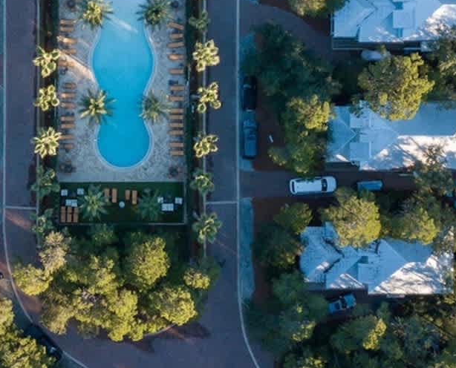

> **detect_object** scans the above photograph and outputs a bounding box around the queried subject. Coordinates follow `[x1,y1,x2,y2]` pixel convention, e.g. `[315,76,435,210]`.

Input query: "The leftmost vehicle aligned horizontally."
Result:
[290,176,336,196]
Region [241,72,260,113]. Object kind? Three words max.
car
